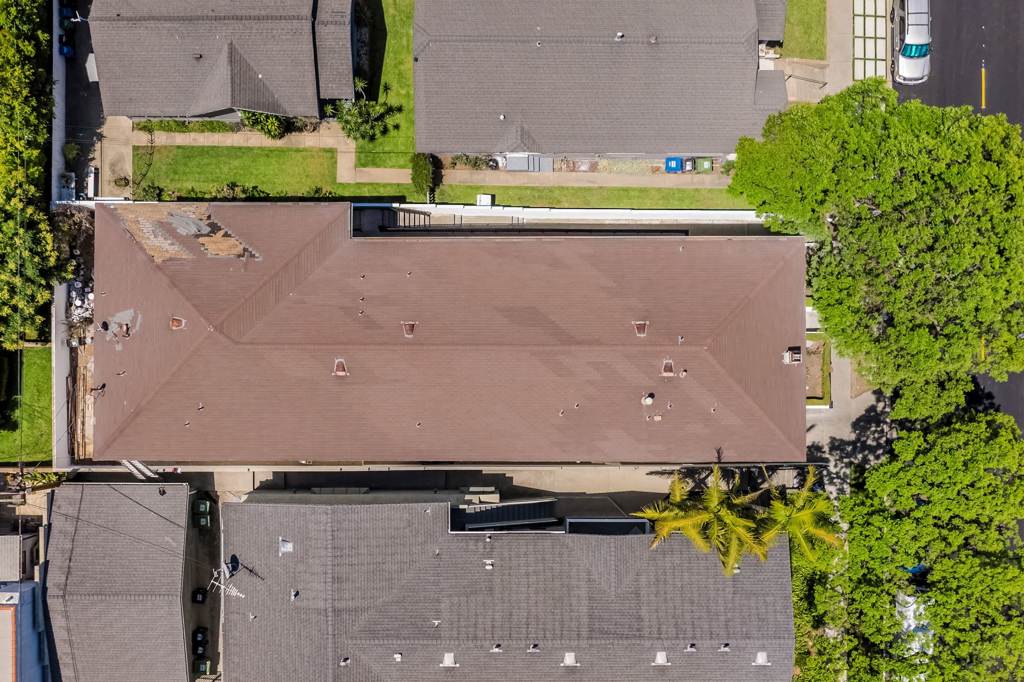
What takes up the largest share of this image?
buildings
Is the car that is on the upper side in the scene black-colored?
No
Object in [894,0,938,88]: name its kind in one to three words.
car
